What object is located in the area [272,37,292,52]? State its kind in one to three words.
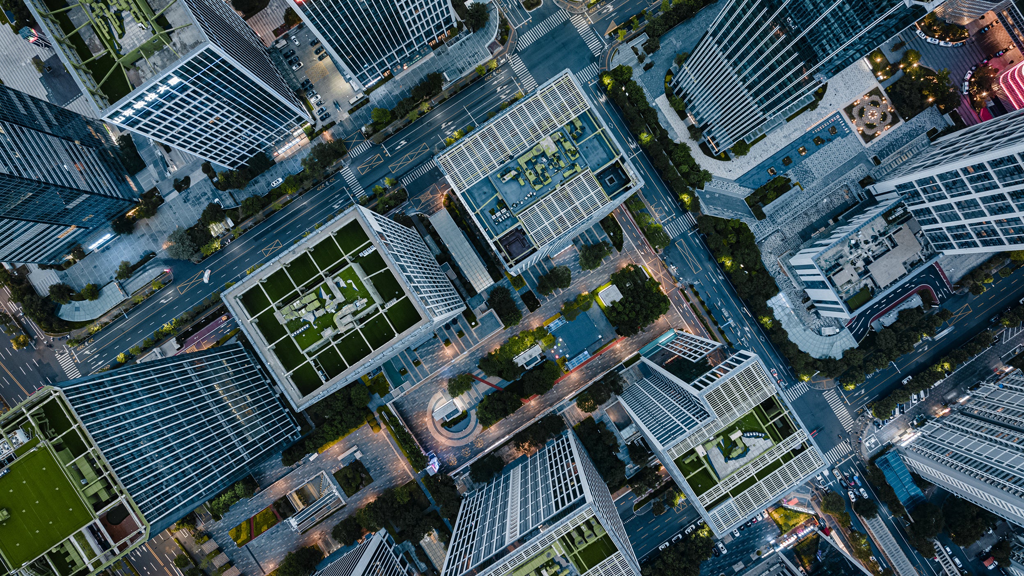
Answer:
vehicle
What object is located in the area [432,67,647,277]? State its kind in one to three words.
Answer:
building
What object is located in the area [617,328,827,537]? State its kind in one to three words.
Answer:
building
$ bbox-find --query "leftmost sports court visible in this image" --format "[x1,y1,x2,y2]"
[550,302,618,360]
